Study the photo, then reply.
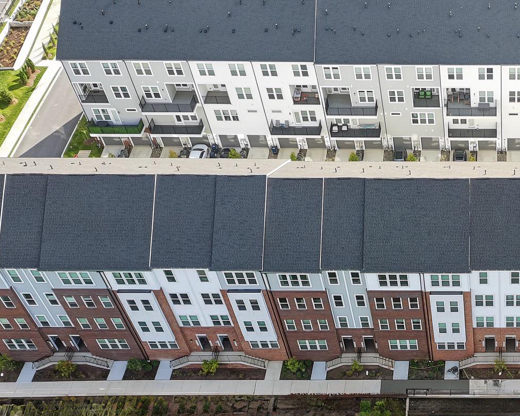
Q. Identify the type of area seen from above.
residential area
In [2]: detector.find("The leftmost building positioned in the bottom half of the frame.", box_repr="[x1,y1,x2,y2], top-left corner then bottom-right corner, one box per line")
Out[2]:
[0,157,149,372]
